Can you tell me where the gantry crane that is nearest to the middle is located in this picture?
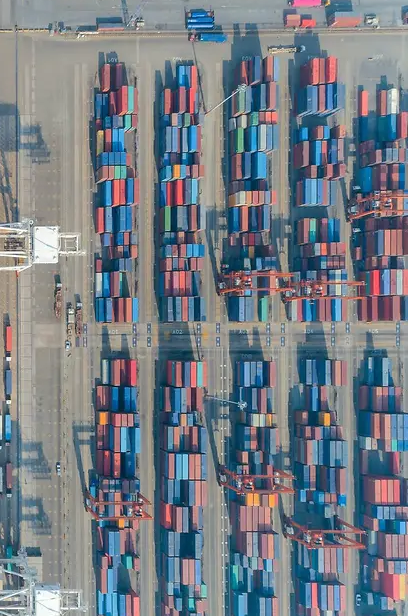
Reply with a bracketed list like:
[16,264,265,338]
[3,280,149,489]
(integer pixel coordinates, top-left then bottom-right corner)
[213,271,295,294]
